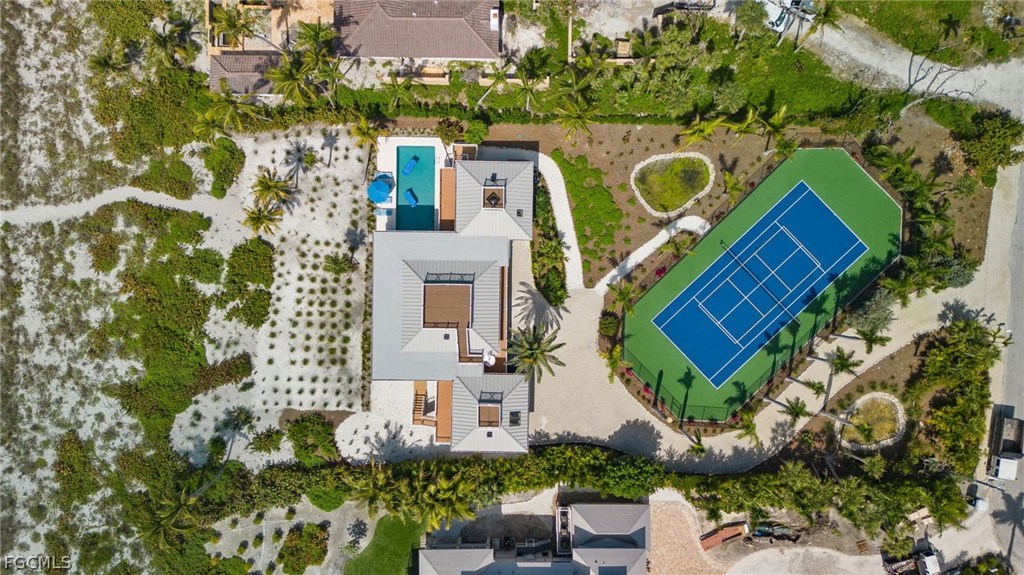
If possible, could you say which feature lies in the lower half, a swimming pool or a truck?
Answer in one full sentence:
You can see a truck in the lower half.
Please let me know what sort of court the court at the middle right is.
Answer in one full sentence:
The court at the middle right can be classified as a tennis court.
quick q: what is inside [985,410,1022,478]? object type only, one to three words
truck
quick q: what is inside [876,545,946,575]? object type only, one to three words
truck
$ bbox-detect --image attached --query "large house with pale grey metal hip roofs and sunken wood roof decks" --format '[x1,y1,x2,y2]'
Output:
[372,142,533,453]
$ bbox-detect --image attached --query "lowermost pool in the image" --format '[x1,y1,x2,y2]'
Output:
[377,137,455,231]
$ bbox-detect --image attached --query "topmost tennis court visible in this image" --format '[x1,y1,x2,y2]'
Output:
[624,148,903,423]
